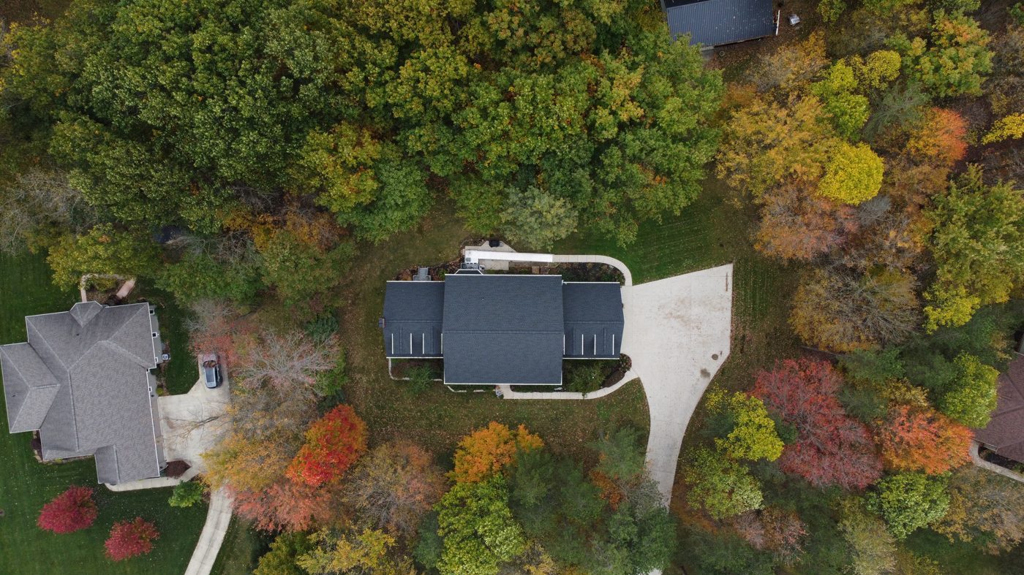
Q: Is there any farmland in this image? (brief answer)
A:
No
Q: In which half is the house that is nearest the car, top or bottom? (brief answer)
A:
bottom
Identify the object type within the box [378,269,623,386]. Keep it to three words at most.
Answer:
house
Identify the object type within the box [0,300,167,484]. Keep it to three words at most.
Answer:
house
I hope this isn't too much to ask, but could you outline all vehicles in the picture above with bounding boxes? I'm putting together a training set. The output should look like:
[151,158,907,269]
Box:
[203,354,222,390]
